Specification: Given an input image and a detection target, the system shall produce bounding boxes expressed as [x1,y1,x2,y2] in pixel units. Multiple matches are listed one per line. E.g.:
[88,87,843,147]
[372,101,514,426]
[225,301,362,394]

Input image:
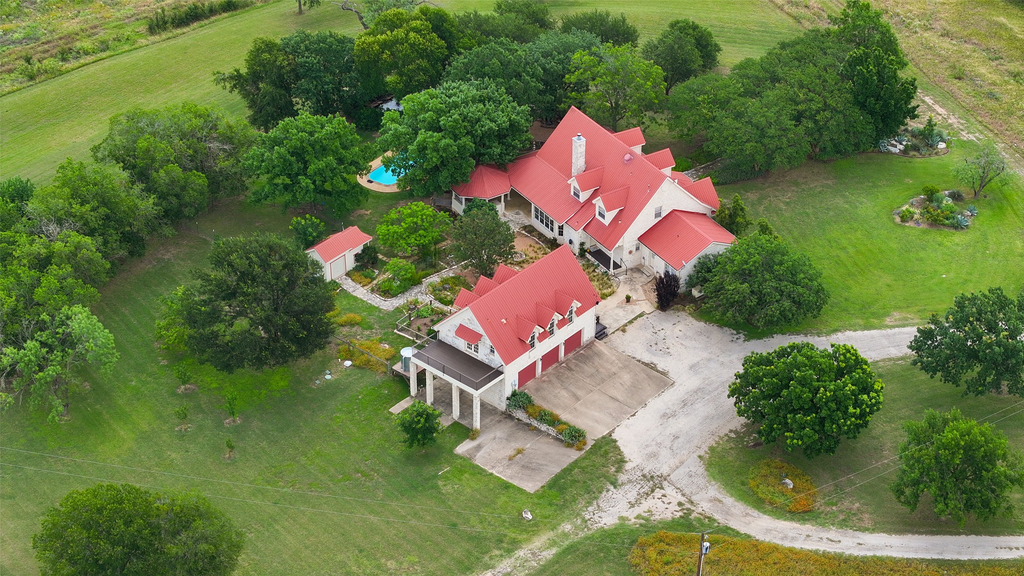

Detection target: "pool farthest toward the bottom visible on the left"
[358,146,432,192]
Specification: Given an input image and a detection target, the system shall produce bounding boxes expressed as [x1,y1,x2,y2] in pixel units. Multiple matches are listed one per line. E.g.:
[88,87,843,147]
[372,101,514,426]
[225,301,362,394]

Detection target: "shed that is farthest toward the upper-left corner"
[307,227,379,279]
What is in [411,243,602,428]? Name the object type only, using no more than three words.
building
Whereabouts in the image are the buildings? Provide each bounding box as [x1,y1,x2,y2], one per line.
[411,243,602,428]
[448,106,744,293]
[307,227,379,279]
